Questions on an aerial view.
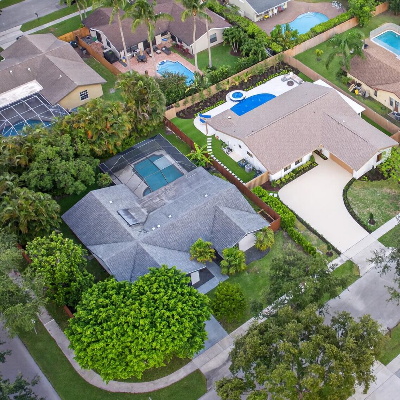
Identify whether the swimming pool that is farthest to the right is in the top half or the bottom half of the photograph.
top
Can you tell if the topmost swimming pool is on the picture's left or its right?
right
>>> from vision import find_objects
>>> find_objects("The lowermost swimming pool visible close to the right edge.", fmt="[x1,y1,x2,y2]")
[367,29,400,58]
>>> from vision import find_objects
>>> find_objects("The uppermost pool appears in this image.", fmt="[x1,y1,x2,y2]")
[289,10,329,33]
